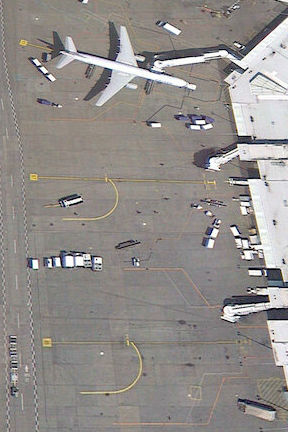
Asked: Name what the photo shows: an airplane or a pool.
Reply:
airplane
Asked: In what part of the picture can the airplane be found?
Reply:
top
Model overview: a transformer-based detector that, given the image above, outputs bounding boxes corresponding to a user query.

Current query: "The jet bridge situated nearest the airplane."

[151,49,247,73]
